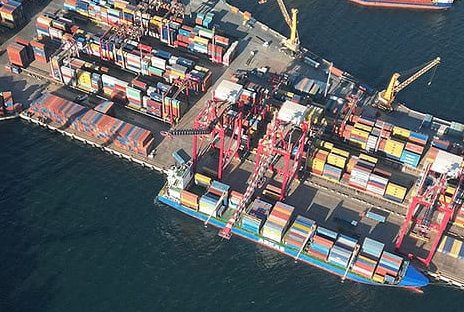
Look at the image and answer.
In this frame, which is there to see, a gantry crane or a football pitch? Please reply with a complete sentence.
Of the two, only a gantry crane appears.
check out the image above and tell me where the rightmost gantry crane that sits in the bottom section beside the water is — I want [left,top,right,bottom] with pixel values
[392,142,464,263]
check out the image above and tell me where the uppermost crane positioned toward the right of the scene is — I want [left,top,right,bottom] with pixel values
[277,0,305,55]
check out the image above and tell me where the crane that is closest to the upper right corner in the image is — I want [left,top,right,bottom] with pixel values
[373,59,438,115]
